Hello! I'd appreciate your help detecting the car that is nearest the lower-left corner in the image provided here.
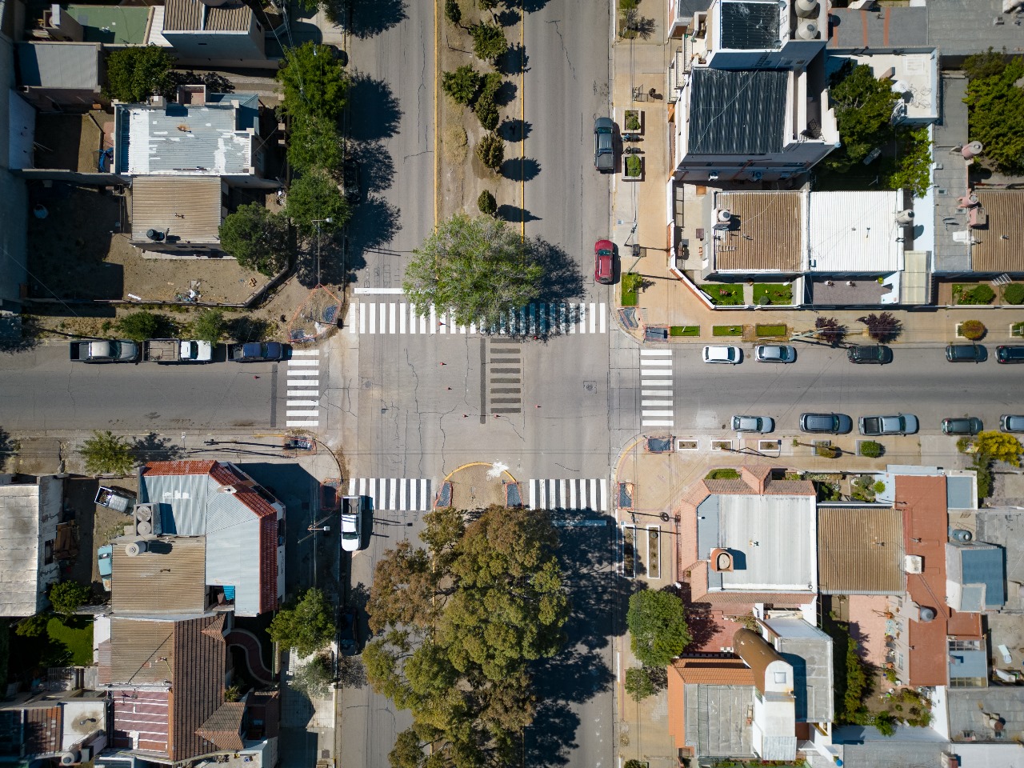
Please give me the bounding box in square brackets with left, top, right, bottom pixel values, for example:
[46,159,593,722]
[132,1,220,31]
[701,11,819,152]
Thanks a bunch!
[94,544,112,582]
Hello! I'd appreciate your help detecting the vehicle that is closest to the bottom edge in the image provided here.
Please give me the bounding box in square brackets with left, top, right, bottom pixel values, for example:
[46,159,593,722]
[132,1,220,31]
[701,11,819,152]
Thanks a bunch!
[338,599,359,654]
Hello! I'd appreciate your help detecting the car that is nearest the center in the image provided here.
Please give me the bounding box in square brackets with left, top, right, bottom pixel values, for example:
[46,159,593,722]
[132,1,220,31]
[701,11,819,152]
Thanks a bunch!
[593,240,616,285]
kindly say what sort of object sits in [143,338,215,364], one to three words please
truck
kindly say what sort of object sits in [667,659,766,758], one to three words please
house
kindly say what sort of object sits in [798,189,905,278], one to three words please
house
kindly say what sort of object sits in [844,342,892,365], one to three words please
car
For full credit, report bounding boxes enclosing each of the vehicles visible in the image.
[69,339,141,363]
[700,344,741,365]
[593,240,616,285]
[996,414,1024,433]
[729,414,774,435]
[856,412,918,437]
[623,143,644,152]
[143,338,215,364]
[938,415,982,437]
[343,155,362,202]
[90,482,140,516]
[339,494,364,551]
[338,599,359,654]
[594,118,616,174]
[94,544,112,582]
[797,411,852,436]
[226,340,285,362]
[942,342,986,364]
[753,344,794,364]
[844,342,892,365]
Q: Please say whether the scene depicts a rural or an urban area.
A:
urban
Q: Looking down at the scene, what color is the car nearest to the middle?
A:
red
